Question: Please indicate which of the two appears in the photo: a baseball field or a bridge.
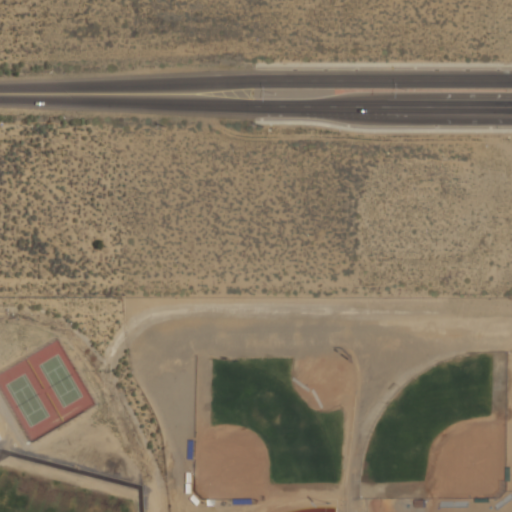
baseball field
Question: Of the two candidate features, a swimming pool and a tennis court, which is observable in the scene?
tennis court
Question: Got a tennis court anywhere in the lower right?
No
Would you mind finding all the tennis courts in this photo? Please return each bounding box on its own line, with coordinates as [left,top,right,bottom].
[0,358,63,440]
[26,340,94,422]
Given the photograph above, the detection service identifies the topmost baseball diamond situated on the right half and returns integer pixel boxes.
[292,350,354,412]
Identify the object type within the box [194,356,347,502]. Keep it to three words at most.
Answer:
baseball field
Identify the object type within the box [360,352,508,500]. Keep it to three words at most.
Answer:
baseball field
